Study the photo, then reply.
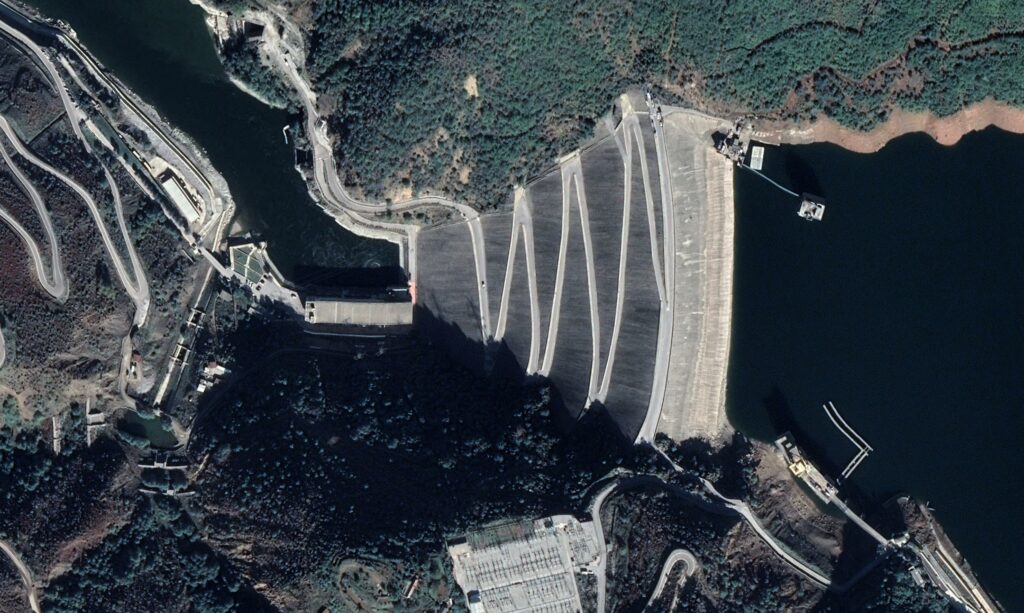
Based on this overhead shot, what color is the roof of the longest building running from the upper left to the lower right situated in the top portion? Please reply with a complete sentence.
The color of the roof on the longest building running from the upper left to the lower right situated in the top portion is white.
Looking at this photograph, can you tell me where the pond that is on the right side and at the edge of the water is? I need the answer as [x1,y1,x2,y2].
[728,125,1024,613]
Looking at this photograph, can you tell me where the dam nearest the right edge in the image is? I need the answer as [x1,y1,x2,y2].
[413,107,741,447]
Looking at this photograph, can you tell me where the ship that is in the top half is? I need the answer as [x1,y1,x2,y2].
[750,146,764,170]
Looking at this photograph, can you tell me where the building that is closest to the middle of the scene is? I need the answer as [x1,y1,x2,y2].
[303,296,413,337]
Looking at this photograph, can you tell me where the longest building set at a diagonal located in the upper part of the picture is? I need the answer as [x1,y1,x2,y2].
[163,176,201,222]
